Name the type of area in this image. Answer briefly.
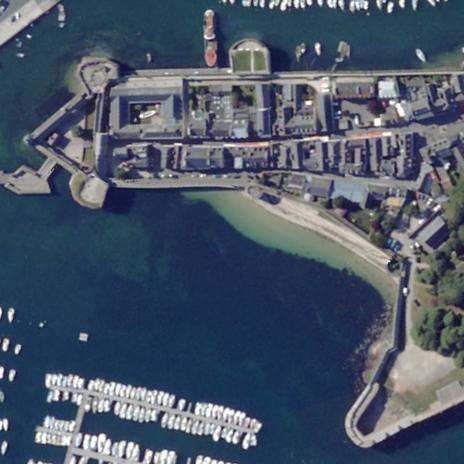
residential area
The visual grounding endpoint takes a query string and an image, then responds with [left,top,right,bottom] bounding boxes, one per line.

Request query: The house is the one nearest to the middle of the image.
[250,184,279,204]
